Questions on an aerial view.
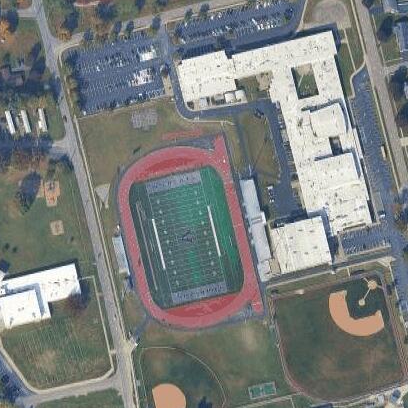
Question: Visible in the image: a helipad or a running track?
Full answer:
Looking from above, you can make out a running track.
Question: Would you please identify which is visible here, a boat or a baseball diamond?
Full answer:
There is a baseball diamond in the scene.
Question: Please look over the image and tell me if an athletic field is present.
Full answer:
Yes, there's an athletic field here.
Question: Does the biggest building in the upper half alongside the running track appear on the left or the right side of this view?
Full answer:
The biggest building in the upper half alongside the running track appears in the right half of the scene.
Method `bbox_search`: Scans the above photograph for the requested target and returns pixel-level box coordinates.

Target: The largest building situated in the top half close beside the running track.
[178,30,372,276]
